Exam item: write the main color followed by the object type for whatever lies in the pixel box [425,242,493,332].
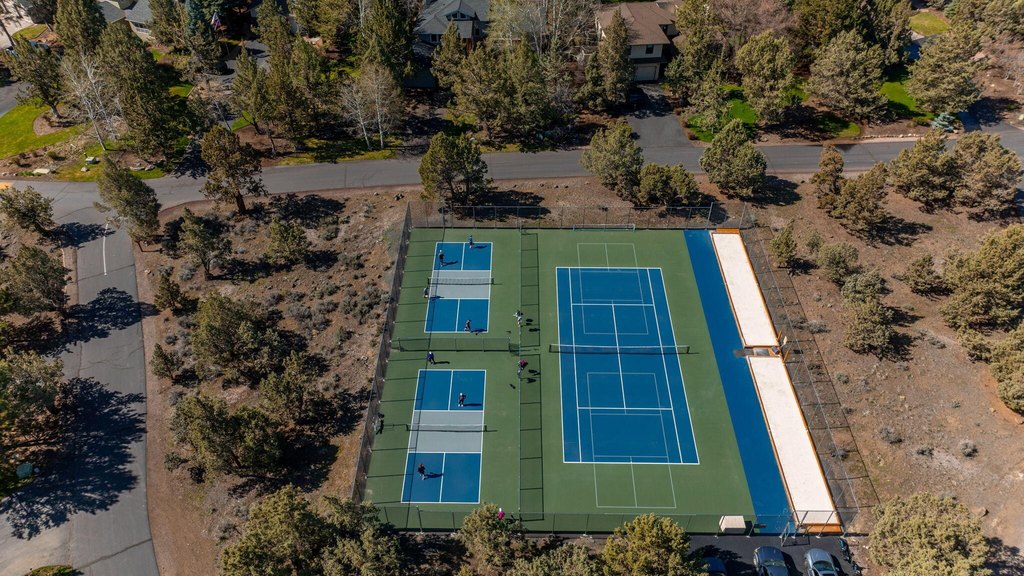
blue sports court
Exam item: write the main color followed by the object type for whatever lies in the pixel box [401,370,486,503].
blue sports court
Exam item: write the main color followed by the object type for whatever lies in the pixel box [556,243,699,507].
blue tennis court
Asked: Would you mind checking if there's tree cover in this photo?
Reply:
Yes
